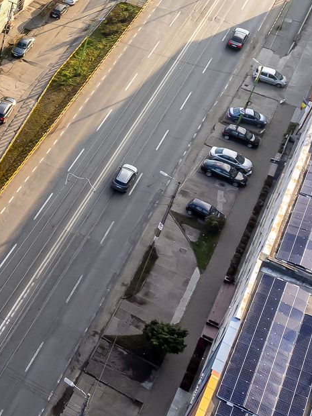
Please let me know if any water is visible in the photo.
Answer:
No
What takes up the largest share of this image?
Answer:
paved ground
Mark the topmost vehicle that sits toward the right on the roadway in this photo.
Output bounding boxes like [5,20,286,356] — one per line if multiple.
[227,28,249,50]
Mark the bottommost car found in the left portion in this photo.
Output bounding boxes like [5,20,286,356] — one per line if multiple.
[109,163,140,196]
